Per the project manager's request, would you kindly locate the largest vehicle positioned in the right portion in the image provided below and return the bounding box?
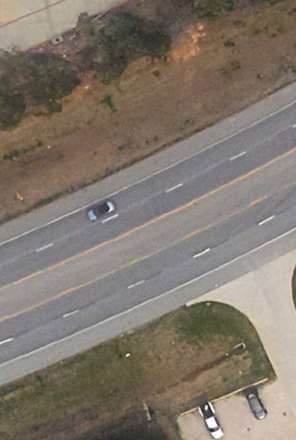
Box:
[199,400,222,439]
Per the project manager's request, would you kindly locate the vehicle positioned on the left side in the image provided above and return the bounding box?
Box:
[87,200,116,221]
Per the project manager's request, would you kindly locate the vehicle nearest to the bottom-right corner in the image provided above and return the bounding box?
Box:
[247,392,266,420]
